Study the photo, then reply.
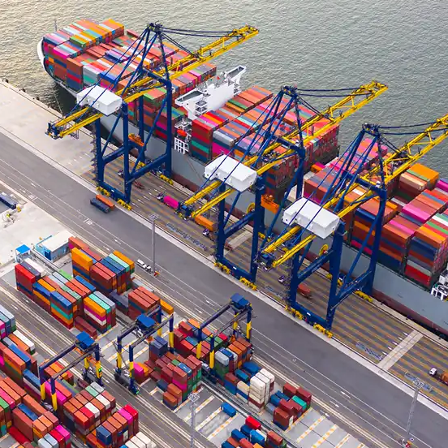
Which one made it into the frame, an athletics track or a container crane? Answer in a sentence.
Of the two, only a container crane appears.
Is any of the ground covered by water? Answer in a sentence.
Yes, there's water in this view.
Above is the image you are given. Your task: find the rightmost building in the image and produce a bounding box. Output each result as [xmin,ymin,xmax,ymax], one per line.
[33,223,86,264]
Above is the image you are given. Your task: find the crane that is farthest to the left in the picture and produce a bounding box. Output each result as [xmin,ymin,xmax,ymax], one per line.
[37,332,101,425]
